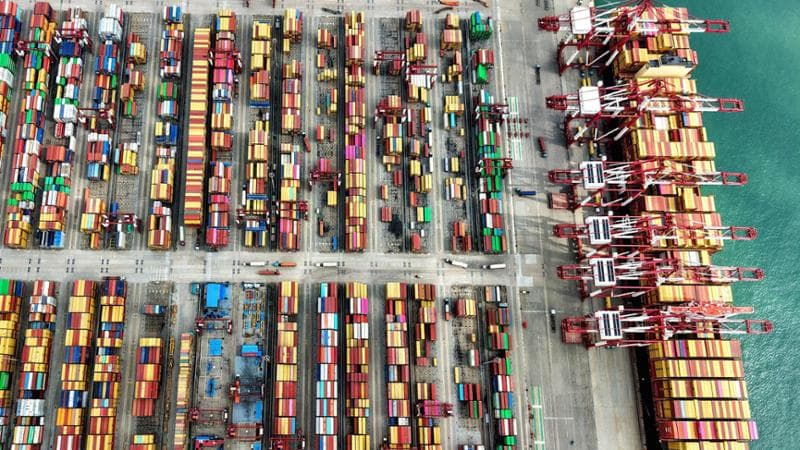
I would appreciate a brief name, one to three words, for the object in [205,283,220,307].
shed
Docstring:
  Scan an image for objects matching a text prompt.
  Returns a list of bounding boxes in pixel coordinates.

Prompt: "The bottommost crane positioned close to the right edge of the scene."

[563,299,774,352]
